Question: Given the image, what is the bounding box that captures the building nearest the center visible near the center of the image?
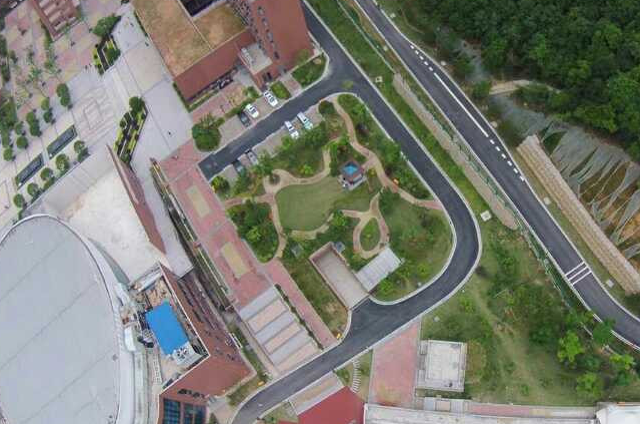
[338,161,366,189]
